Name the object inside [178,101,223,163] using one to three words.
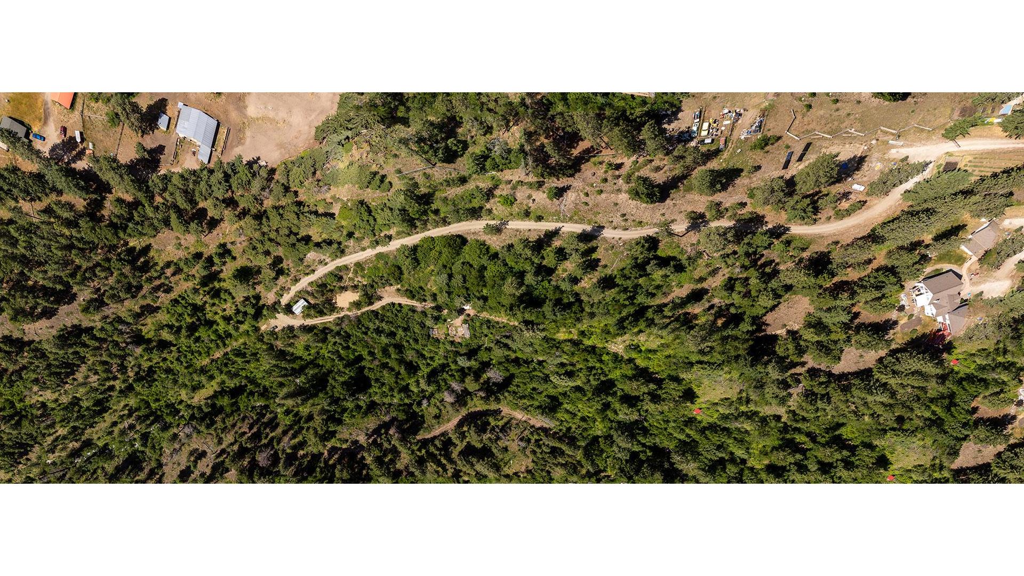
barn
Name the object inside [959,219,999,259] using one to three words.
building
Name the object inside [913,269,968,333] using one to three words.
house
